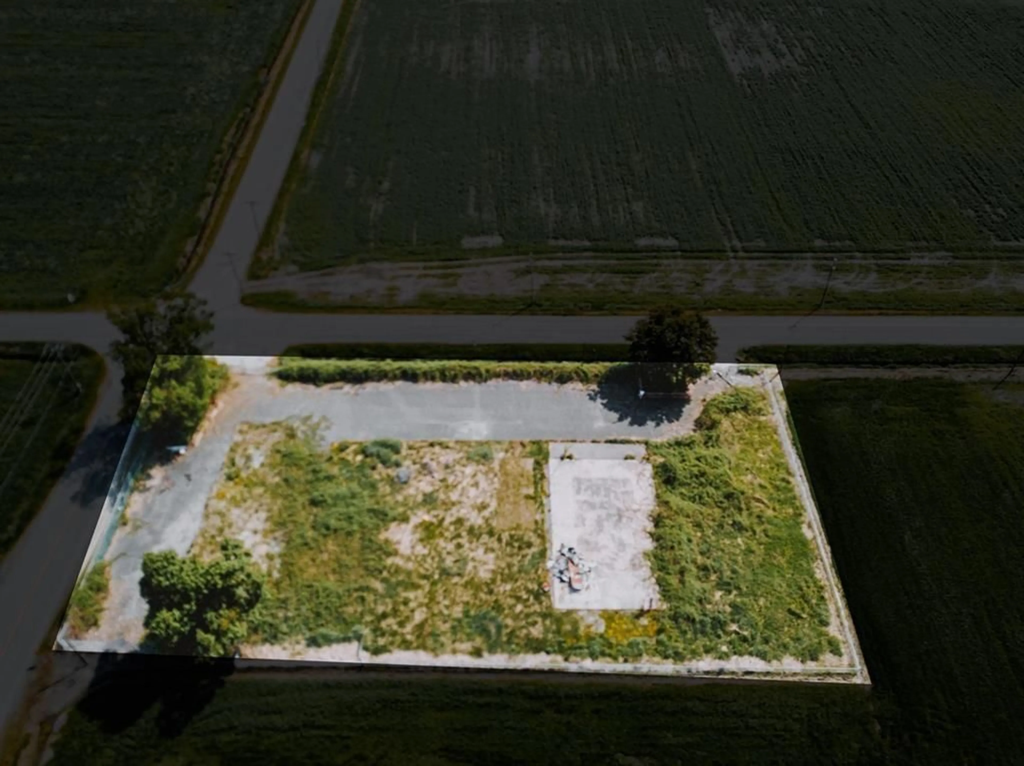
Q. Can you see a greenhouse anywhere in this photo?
No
